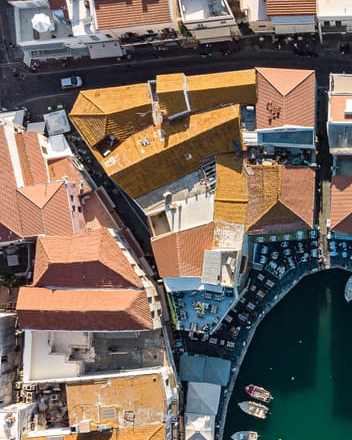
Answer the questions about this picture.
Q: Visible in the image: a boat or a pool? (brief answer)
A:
boat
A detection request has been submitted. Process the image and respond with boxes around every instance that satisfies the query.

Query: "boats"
[242,387,272,404]
[235,402,269,419]
[222,431,260,440]
[344,277,352,302]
